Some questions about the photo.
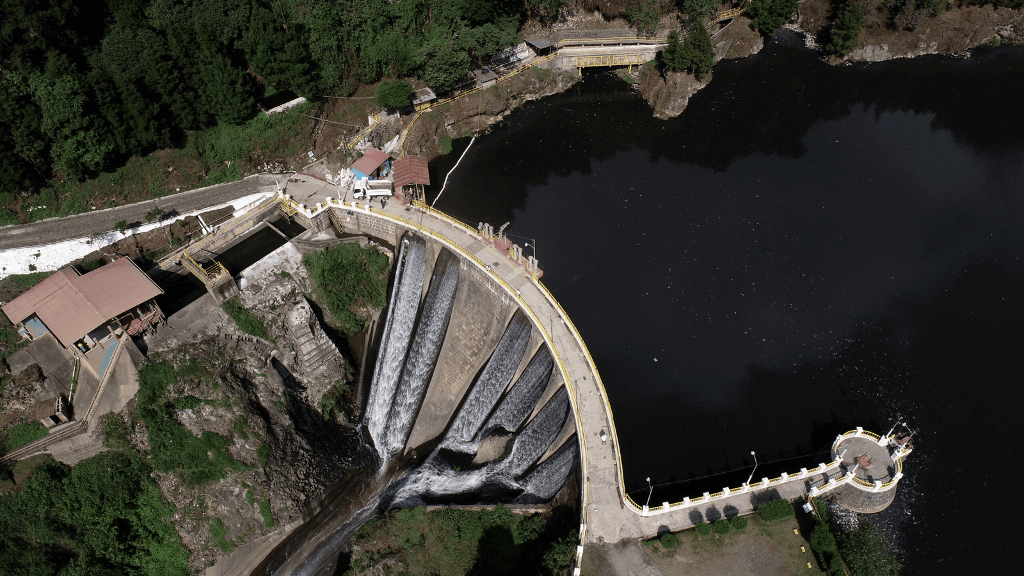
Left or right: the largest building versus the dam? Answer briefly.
left of it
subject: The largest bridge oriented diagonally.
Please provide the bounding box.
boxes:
[181,252,242,319]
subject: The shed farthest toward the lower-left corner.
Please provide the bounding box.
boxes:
[32,402,70,428]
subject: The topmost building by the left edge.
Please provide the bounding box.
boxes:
[2,255,165,359]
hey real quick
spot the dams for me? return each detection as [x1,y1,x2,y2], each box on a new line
[329,205,641,576]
